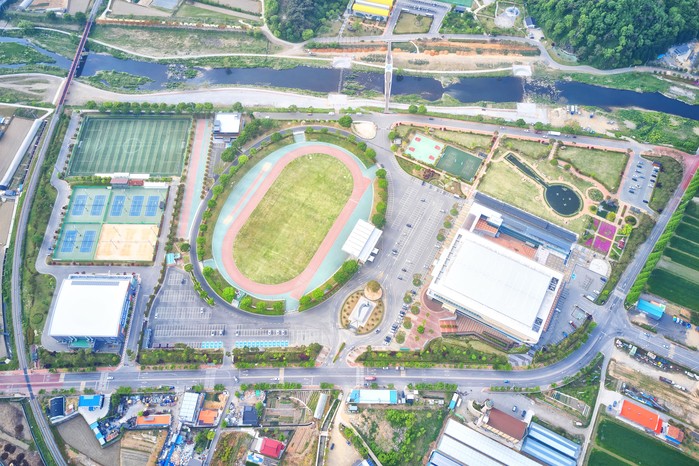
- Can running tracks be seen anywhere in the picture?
Yes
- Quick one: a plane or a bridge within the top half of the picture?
bridge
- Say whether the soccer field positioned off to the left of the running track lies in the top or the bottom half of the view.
top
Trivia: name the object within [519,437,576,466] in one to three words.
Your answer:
building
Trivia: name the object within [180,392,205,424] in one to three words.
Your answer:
building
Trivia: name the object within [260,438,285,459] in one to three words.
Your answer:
house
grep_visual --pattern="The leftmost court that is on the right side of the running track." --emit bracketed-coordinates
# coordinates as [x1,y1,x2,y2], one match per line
[405,134,444,165]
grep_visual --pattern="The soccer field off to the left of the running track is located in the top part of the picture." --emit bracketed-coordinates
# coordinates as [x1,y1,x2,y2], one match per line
[63,115,193,181]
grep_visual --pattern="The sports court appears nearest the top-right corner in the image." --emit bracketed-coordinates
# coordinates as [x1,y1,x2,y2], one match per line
[436,145,483,182]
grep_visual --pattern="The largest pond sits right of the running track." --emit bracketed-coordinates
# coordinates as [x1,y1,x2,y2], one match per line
[499,147,586,218]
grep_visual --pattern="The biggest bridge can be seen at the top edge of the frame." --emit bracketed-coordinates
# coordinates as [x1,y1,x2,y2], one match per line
[56,20,96,104]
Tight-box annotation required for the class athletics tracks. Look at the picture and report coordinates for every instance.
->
[202,132,381,318]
